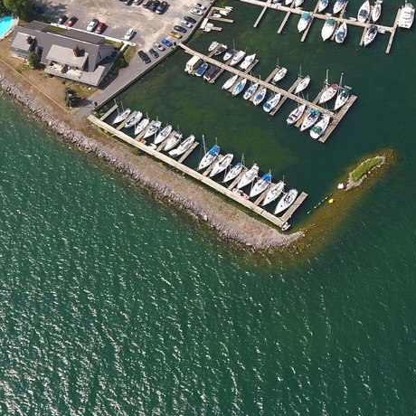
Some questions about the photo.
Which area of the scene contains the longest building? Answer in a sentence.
The longest building is located in the top left region of the scene.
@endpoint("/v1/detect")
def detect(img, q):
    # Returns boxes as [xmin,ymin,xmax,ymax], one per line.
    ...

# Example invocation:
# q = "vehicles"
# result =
[183,15,198,24]
[95,21,107,33]
[123,28,136,40]
[190,7,205,16]
[156,2,167,14]
[180,18,194,28]
[153,41,167,52]
[67,16,79,26]
[137,49,153,62]
[173,24,188,34]
[168,29,183,40]
[149,0,161,10]
[57,14,70,25]
[148,46,162,59]
[132,0,145,6]
[192,1,208,10]
[86,19,99,31]
[140,0,153,10]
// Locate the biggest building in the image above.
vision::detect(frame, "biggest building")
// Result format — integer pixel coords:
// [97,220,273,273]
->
[11,15,122,89]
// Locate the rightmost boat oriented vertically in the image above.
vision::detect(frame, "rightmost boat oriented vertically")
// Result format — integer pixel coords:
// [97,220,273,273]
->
[397,0,415,32]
